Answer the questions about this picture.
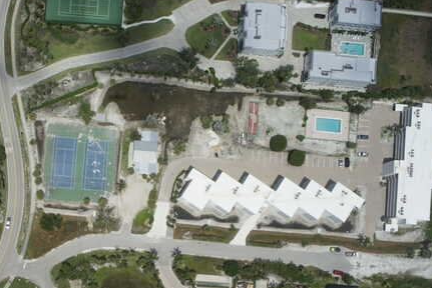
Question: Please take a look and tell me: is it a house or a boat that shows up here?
house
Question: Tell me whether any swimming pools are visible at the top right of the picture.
Yes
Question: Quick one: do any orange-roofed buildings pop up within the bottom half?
No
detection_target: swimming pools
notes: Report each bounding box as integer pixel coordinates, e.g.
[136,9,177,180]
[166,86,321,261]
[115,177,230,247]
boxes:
[306,110,348,140]
[332,32,377,58]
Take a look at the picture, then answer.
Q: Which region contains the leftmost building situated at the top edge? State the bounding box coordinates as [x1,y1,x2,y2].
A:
[239,2,286,57]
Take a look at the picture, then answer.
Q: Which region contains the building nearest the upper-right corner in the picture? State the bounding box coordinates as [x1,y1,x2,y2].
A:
[328,0,382,31]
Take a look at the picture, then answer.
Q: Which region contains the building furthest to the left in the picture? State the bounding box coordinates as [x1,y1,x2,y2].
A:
[129,130,159,174]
